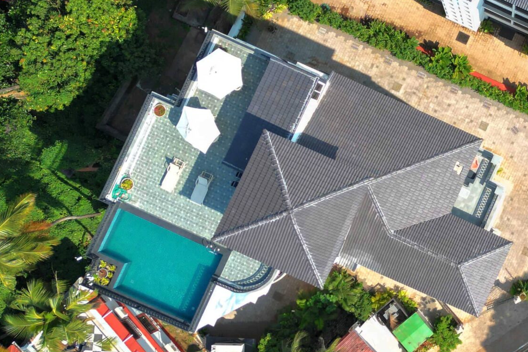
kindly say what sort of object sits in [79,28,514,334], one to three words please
house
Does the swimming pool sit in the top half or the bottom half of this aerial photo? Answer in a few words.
bottom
